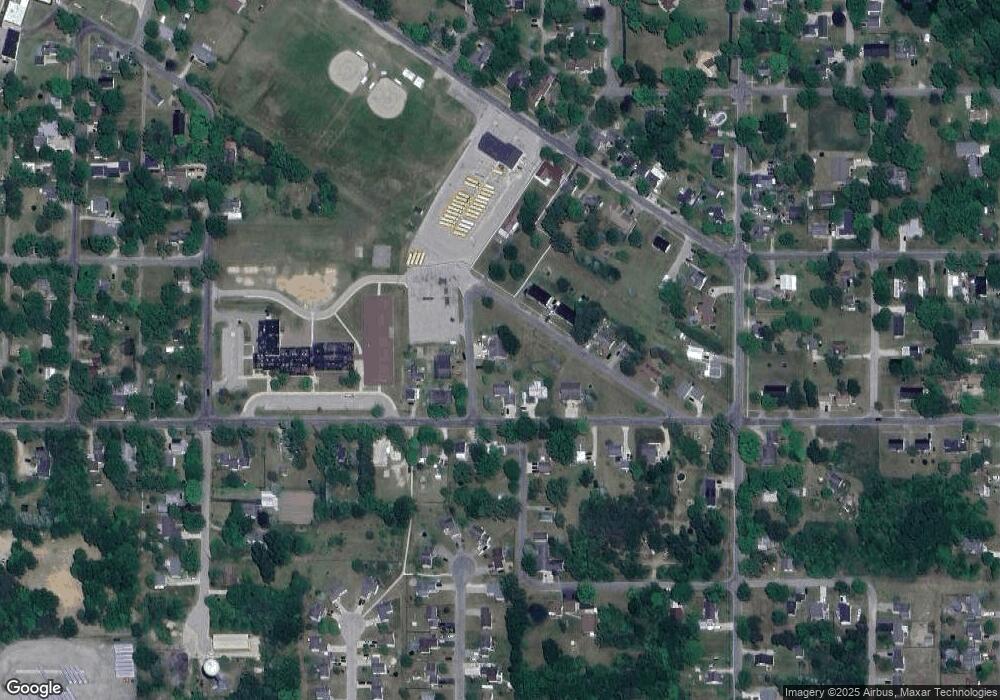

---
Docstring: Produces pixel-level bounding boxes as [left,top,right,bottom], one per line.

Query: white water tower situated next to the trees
[200,660,231,689]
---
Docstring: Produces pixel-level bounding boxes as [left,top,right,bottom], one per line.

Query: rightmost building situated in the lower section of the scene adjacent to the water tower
[212,634,249,649]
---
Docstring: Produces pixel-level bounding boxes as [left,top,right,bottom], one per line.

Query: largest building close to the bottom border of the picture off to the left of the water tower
[167,651,190,675]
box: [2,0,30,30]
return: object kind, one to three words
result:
building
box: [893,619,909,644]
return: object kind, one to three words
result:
house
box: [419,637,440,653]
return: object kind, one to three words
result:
house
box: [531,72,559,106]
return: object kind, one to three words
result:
building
